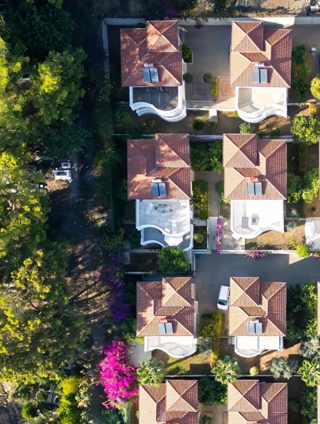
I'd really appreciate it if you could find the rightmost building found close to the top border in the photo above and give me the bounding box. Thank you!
[229,20,292,128]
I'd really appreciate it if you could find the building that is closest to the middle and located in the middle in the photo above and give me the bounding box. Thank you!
[126,131,195,244]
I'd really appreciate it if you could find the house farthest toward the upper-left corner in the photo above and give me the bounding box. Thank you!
[120,19,187,127]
